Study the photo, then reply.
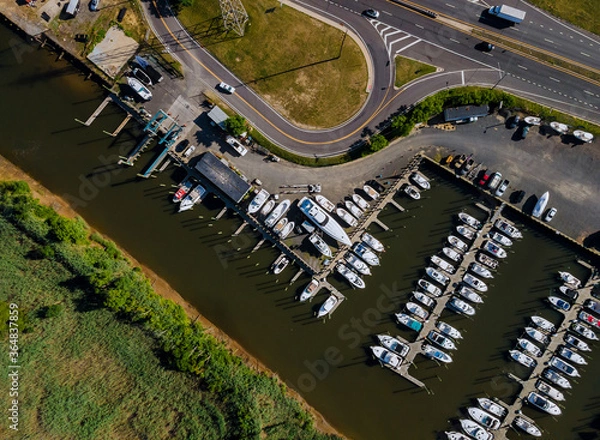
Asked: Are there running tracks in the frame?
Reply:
No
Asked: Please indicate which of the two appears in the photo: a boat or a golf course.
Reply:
boat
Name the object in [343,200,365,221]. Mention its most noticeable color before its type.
white boat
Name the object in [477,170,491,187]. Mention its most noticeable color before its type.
red vehicle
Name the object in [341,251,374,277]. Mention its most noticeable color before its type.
white boat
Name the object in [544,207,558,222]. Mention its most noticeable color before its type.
white car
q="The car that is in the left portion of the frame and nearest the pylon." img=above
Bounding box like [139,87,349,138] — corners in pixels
[220,82,236,94]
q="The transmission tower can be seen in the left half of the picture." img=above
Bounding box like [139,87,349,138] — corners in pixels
[217,0,250,37]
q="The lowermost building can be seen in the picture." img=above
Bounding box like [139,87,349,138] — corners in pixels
[195,150,251,203]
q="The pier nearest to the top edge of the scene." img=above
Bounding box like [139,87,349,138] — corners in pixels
[74,90,146,137]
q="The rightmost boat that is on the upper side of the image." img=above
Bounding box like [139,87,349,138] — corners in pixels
[568,131,596,144]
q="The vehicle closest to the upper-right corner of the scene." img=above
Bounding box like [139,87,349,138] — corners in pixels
[487,5,527,24]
